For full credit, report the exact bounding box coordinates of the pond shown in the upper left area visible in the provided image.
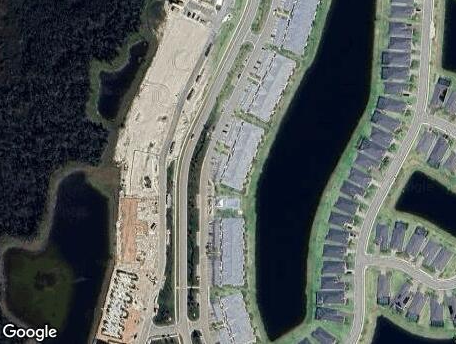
[99,41,147,119]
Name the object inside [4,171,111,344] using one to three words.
pond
